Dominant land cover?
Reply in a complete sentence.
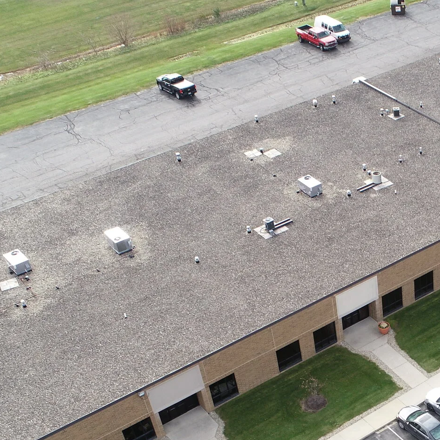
What you mostly see from above here is buildings.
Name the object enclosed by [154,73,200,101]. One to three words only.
truck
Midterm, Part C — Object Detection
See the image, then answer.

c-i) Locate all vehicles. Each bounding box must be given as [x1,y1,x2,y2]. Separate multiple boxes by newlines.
[395,407,440,440]
[311,11,353,40]
[293,25,339,51]
[426,390,440,415]
[154,73,200,101]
